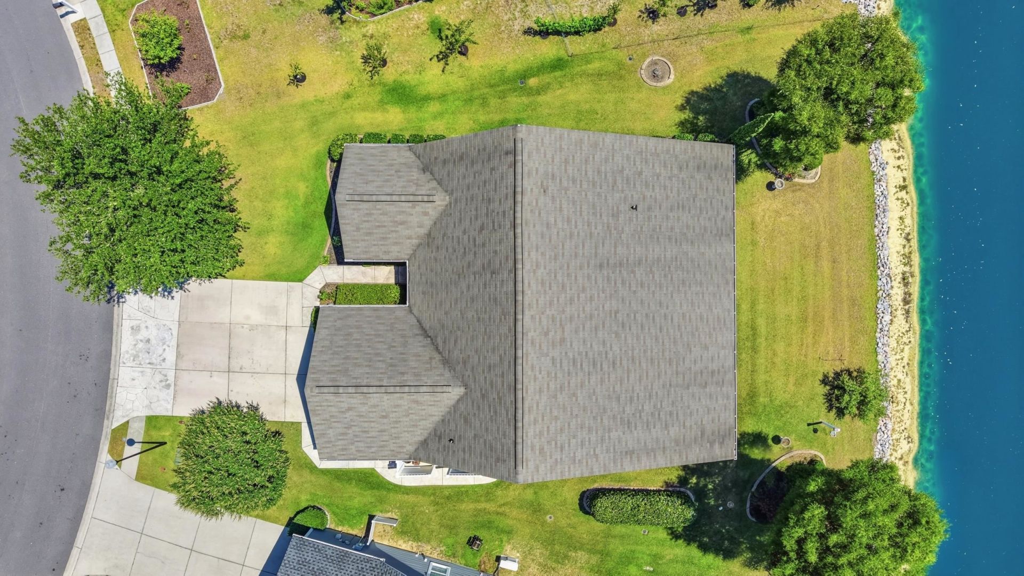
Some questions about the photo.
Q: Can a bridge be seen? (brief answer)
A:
No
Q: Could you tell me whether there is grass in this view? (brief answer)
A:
Yes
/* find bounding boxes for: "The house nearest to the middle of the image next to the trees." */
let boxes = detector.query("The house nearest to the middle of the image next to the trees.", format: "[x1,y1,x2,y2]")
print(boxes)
[304,124,737,483]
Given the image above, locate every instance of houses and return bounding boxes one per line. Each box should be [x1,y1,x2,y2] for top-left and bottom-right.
[304,124,737,483]
[275,529,494,576]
